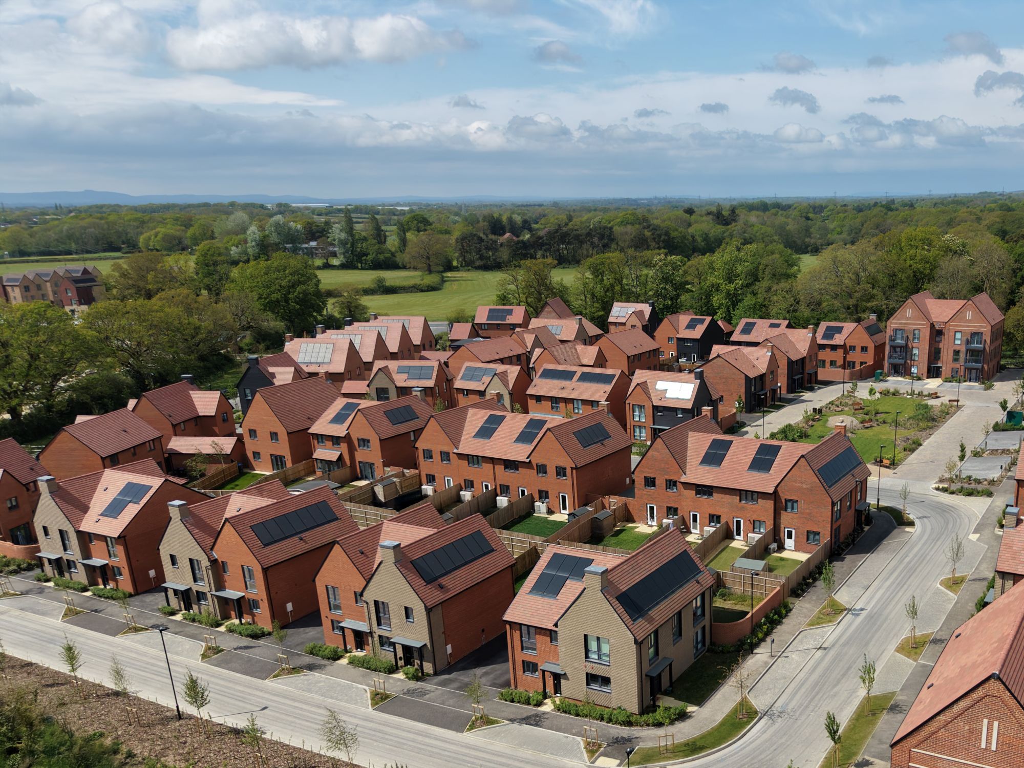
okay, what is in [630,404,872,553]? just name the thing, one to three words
house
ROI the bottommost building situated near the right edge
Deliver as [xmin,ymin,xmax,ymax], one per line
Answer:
[887,579,1024,768]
